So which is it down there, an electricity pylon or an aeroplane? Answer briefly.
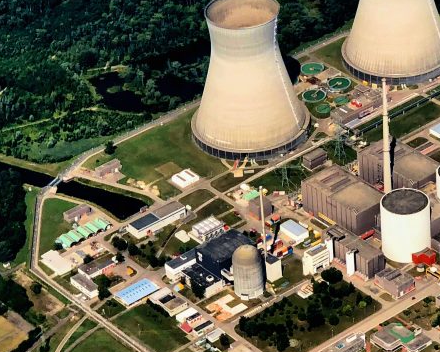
electricity pylon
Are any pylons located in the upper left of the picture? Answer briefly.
No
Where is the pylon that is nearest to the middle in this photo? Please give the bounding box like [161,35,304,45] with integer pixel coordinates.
[275,156,295,190]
